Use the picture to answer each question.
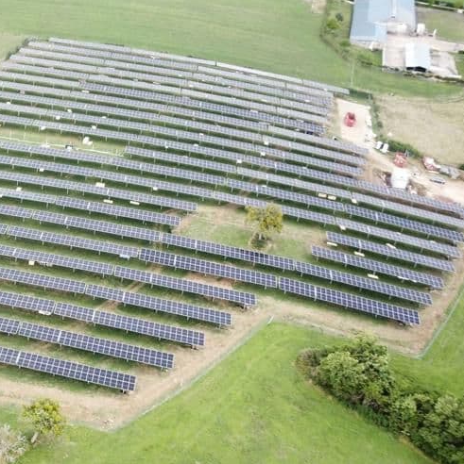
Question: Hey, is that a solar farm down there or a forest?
solar farm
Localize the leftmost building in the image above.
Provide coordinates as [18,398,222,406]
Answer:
[349,0,388,54]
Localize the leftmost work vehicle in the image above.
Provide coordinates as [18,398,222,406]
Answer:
[345,110,360,125]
